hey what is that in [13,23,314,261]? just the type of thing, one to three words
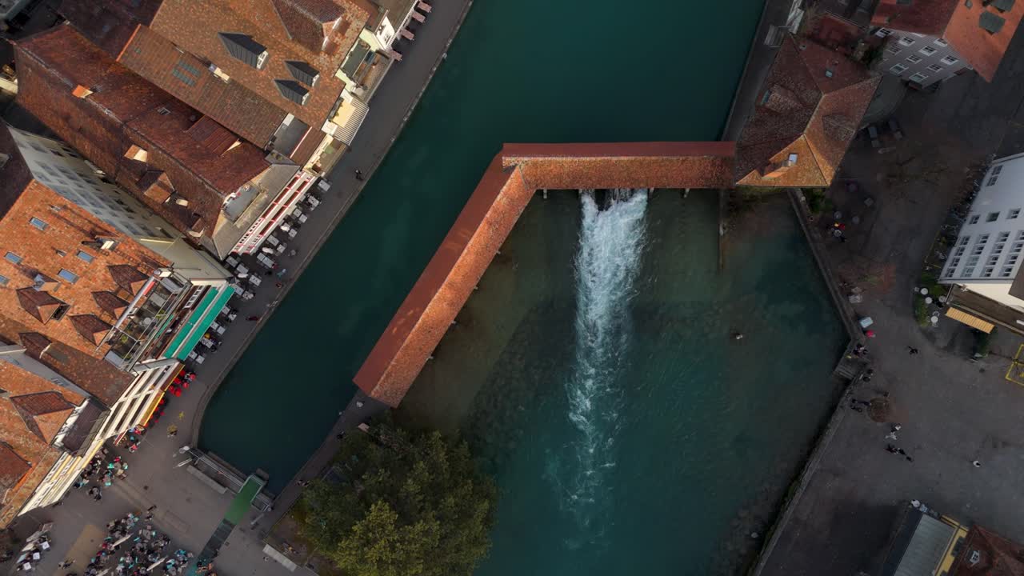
house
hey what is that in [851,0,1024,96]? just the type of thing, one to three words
house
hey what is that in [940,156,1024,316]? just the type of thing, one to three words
building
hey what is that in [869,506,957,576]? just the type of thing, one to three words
building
